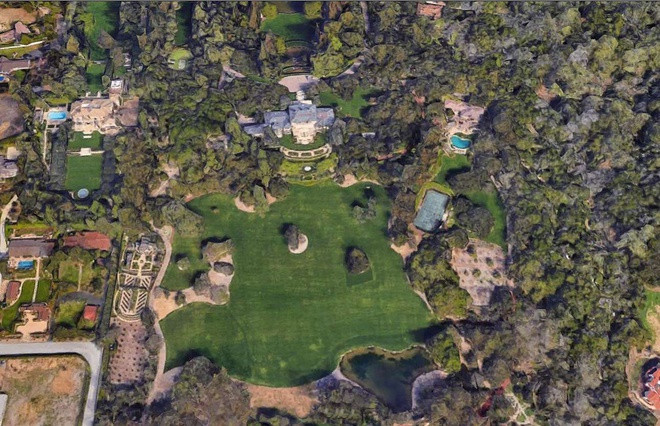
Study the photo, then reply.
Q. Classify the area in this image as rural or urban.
rural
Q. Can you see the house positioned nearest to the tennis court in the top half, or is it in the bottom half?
top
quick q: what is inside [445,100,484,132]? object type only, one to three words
house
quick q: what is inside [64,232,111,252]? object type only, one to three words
house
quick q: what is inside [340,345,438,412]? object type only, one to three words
pond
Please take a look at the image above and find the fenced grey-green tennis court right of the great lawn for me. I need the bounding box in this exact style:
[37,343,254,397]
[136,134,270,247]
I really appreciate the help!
[413,187,451,231]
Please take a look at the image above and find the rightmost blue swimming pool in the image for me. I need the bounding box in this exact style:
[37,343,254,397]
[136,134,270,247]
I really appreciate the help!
[450,134,471,149]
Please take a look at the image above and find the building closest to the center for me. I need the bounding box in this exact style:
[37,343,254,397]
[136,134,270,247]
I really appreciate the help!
[245,89,335,140]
